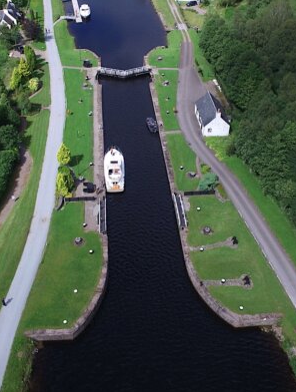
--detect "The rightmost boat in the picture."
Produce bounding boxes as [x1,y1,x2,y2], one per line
[147,116,160,135]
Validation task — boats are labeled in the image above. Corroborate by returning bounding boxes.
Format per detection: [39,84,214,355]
[106,143,127,196]
[80,1,91,19]
[147,116,160,135]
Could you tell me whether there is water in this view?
Yes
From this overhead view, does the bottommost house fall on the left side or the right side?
right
